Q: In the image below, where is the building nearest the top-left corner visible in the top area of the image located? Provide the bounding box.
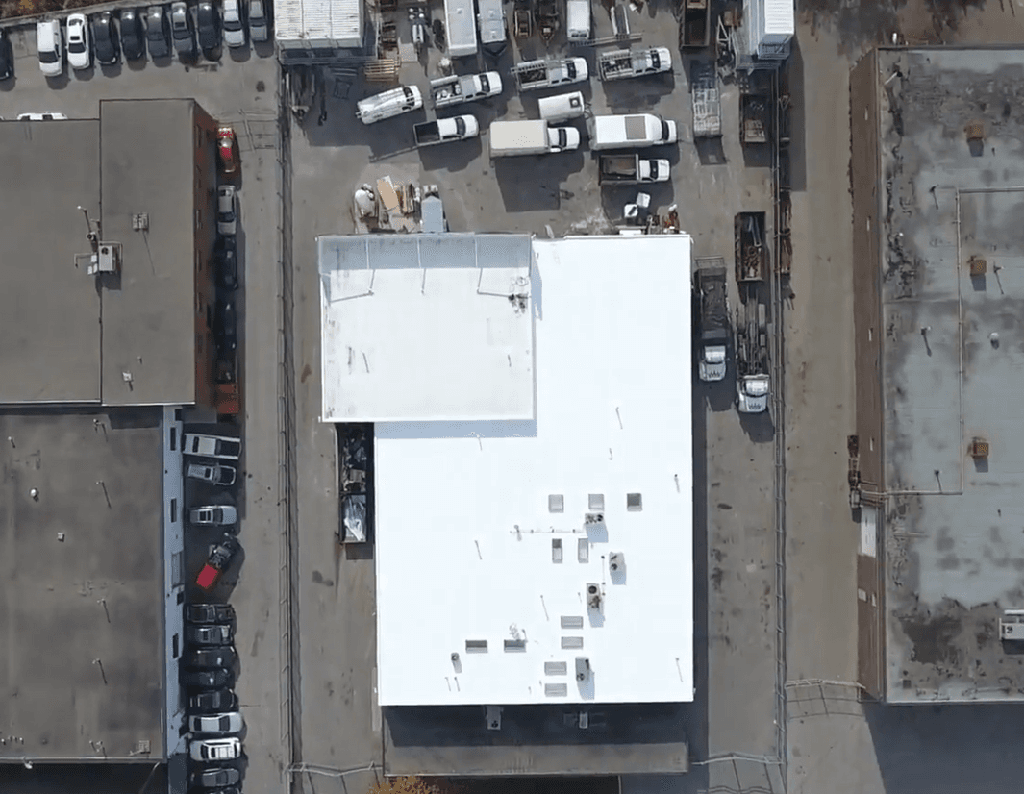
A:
[0,99,218,405]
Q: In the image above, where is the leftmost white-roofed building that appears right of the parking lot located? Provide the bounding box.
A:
[313,231,698,776]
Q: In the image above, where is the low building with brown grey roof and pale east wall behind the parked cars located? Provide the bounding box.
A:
[0,407,185,762]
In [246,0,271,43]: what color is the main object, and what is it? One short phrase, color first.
gray car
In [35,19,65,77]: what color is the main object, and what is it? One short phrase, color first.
white van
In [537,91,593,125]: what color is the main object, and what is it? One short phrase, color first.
white trailer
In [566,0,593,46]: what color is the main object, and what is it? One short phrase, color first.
white vehicle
